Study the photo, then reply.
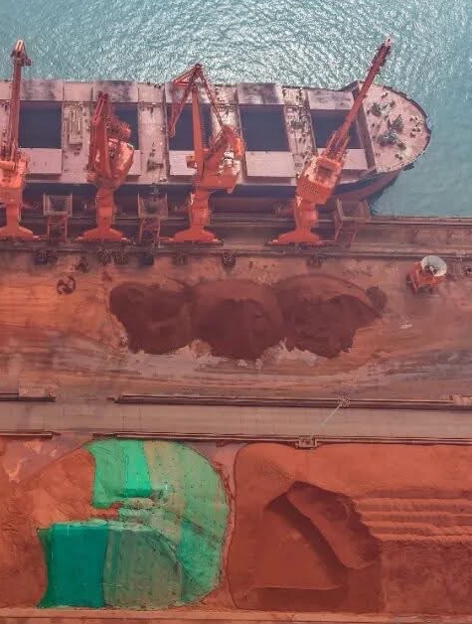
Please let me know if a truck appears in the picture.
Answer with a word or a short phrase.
No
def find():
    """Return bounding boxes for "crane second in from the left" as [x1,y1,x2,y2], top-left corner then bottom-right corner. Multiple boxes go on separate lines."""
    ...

[76,88,137,241]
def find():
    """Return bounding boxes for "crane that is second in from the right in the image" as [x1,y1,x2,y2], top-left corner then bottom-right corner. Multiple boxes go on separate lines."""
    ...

[165,63,251,243]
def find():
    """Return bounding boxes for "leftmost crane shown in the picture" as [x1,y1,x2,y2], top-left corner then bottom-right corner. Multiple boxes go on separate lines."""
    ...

[0,26,43,238]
